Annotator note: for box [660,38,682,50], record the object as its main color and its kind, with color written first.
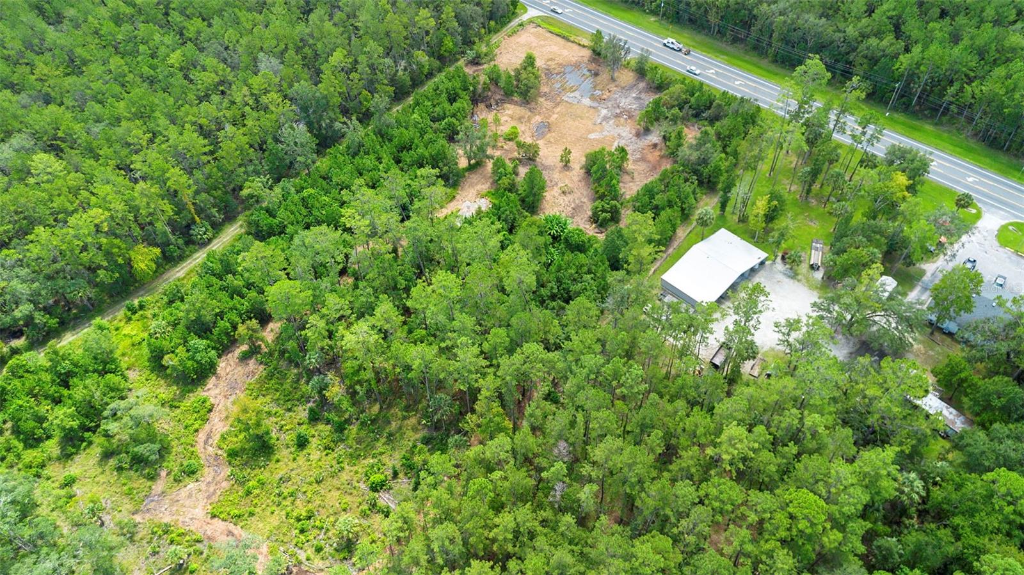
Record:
white vehicle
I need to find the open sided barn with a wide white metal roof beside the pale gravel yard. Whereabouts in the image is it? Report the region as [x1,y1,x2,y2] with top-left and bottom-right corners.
[661,229,768,314]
